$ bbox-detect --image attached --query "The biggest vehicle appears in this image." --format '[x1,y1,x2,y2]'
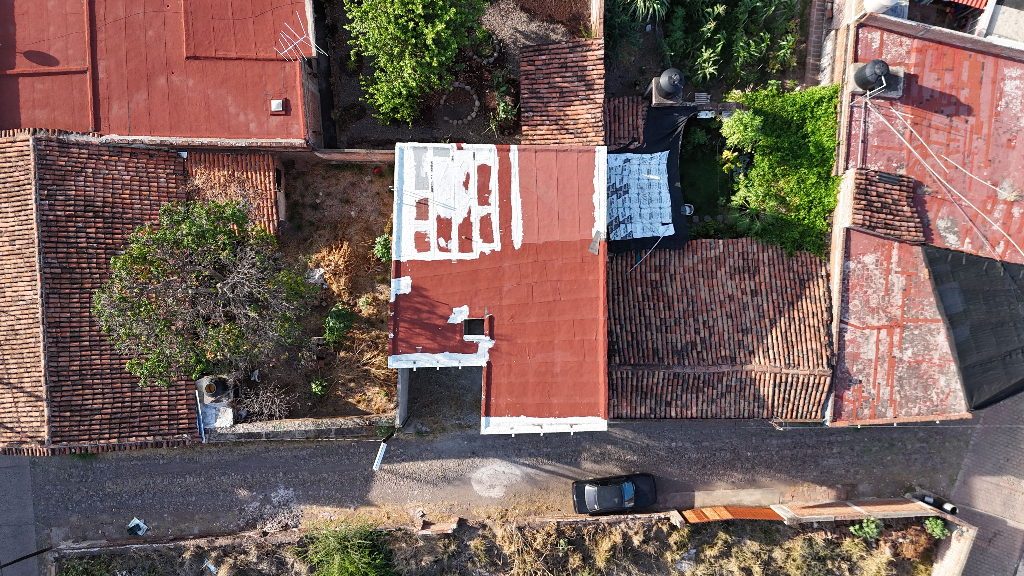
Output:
[569,471,660,515]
